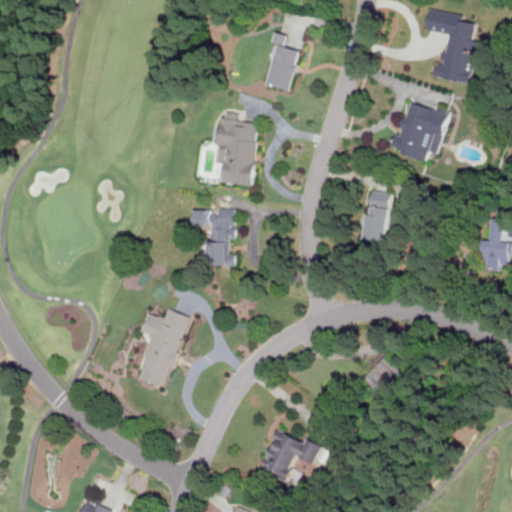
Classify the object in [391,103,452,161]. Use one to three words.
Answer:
house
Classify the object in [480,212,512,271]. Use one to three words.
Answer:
house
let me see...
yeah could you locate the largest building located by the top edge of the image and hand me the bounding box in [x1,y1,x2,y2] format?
[426,8,478,82]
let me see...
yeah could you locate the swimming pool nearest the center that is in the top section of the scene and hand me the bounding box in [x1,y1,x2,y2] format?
[197,142,222,184]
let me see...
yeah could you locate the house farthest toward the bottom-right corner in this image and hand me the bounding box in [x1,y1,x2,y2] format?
[366,354,399,393]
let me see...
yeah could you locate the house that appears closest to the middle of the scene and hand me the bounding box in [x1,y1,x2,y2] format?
[192,209,238,267]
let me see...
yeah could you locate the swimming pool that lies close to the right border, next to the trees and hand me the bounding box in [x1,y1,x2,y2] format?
[455,140,487,166]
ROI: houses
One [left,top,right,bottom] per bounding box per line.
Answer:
[261,430,330,485]
[426,8,478,82]
[366,354,399,393]
[361,190,394,241]
[84,502,114,512]
[265,32,300,90]
[140,310,190,387]
[480,212,512,271]
[391,103,452,161]
[192,209,238,267]
[214,112,258,187]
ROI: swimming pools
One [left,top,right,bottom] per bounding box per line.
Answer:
[197,142,222,184]
[455,140,487,166]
